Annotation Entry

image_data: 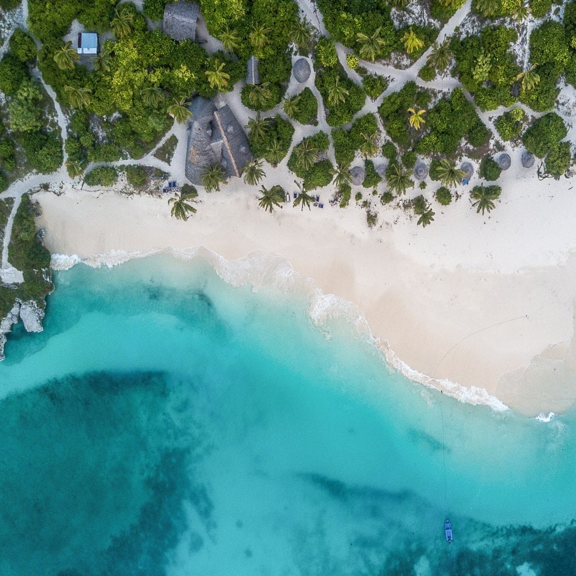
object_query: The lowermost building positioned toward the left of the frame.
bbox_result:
[185,96,253,187]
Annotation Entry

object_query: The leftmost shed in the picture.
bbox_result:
[78,34,99,54]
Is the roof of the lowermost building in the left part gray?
Yes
